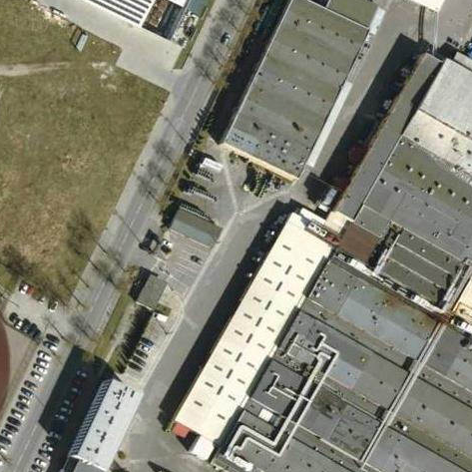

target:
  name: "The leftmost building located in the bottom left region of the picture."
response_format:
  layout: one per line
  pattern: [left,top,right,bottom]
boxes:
[68,379,145,472]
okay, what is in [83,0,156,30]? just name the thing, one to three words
building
